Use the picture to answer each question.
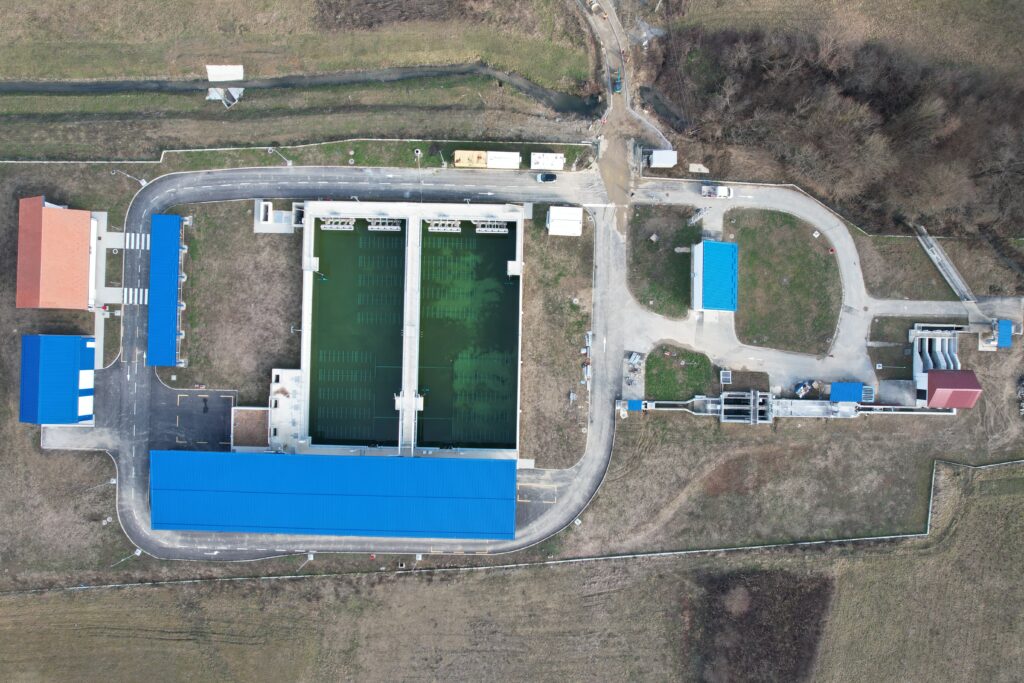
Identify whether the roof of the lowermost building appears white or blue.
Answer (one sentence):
The roof of the lowermost building is blue.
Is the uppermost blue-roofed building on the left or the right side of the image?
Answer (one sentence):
The uppermost blue-roofed building appears in the right half of the scene.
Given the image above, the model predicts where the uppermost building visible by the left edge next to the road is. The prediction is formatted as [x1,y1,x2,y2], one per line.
[16,196,103,309]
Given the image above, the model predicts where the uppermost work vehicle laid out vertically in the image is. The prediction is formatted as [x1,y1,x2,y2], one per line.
[612,63,624,96]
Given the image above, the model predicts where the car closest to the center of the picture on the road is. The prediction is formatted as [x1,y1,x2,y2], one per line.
[537,171,558,183]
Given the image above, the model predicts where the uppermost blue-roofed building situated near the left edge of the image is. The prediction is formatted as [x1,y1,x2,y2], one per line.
[19,335,96,427]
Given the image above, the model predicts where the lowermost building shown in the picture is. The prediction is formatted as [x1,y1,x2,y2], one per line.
[150,448,517,541]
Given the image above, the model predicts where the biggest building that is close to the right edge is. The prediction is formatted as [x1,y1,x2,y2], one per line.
[905,323,983,409]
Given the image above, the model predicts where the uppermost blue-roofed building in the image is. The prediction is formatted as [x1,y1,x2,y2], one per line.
[675,240,737,319]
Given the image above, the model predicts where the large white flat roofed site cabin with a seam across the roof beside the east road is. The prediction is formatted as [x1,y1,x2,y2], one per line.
[546,206,583,239]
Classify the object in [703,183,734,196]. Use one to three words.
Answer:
vehicle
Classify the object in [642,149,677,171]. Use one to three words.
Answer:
shed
